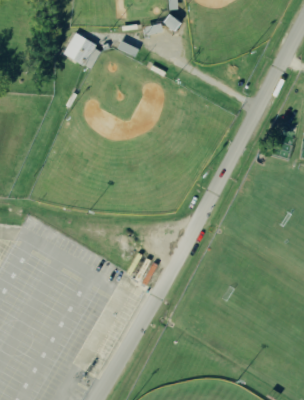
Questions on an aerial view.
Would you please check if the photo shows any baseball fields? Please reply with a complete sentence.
Yes, I can see a baseball field in this picture.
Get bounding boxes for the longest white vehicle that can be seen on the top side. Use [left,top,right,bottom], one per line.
[271,78,284,98]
